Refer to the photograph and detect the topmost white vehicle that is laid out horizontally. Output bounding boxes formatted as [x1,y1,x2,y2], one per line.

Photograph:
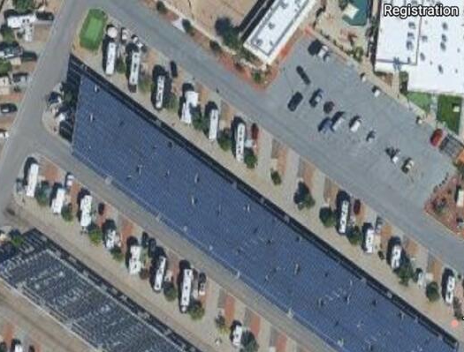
[5,13,36,27]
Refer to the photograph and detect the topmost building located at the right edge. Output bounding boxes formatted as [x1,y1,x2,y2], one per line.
[374,0,464,92]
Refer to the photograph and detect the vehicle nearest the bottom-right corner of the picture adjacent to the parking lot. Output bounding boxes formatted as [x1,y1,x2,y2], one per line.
[444,275,461,306]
